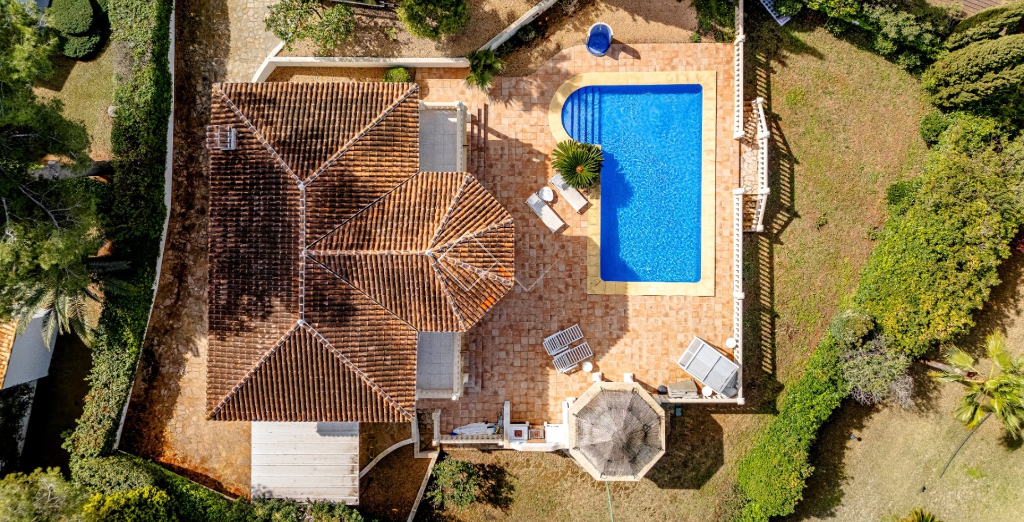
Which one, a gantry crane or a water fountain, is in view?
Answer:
water fountain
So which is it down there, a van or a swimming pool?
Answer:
swimming pool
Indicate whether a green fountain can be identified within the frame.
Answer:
No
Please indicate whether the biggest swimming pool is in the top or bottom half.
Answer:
top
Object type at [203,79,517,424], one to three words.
house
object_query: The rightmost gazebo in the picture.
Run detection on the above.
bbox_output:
[567,375,665,481]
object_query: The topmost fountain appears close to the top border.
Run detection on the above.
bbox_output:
[585,21,613,59]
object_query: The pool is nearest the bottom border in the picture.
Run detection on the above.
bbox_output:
[562,84,702,281]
